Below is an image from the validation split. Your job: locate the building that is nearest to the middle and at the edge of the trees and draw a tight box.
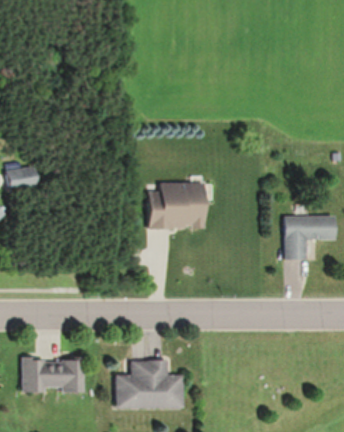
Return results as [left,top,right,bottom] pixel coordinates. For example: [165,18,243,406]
[146,182,208,229]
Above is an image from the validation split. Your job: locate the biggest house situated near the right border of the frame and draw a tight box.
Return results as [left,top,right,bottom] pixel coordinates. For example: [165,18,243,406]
[282,216,338,259]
